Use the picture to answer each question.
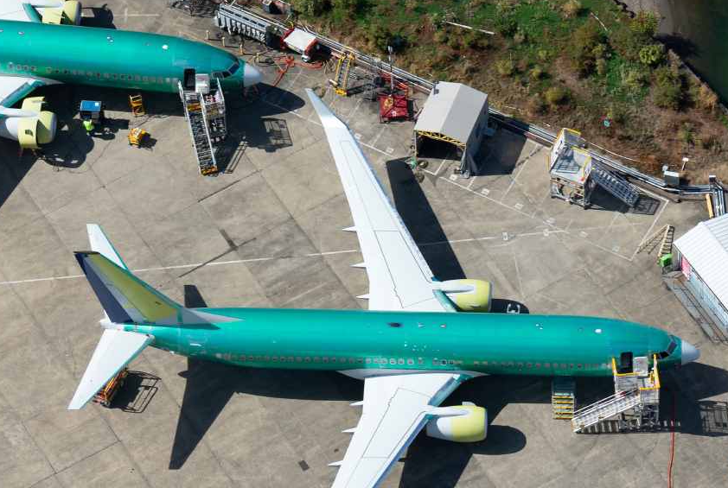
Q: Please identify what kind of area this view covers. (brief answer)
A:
airport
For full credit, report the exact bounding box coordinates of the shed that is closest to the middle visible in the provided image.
[414,80,489,181]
